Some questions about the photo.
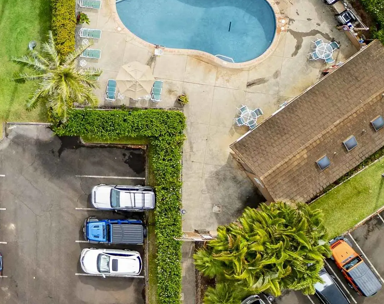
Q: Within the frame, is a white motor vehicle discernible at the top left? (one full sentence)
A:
No, no white motor vehicle appears at the top left.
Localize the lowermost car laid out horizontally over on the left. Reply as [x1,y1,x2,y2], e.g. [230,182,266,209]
[80,247,142,277]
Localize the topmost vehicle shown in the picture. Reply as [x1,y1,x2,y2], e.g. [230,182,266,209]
[90,183,156,213]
